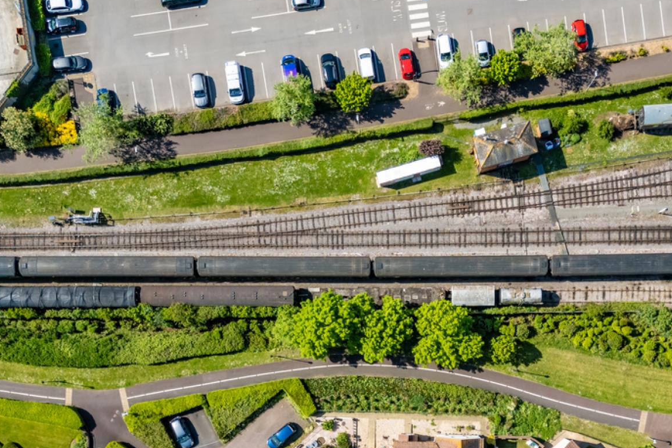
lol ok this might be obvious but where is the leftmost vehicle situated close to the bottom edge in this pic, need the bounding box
[168,415,194,448]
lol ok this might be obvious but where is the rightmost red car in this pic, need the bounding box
[570,17,591,52]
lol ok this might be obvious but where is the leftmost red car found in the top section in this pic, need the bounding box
[396,46,416,80]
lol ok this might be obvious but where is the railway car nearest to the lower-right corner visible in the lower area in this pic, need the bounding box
[497,286,542,305]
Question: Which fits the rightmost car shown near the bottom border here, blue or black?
blue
